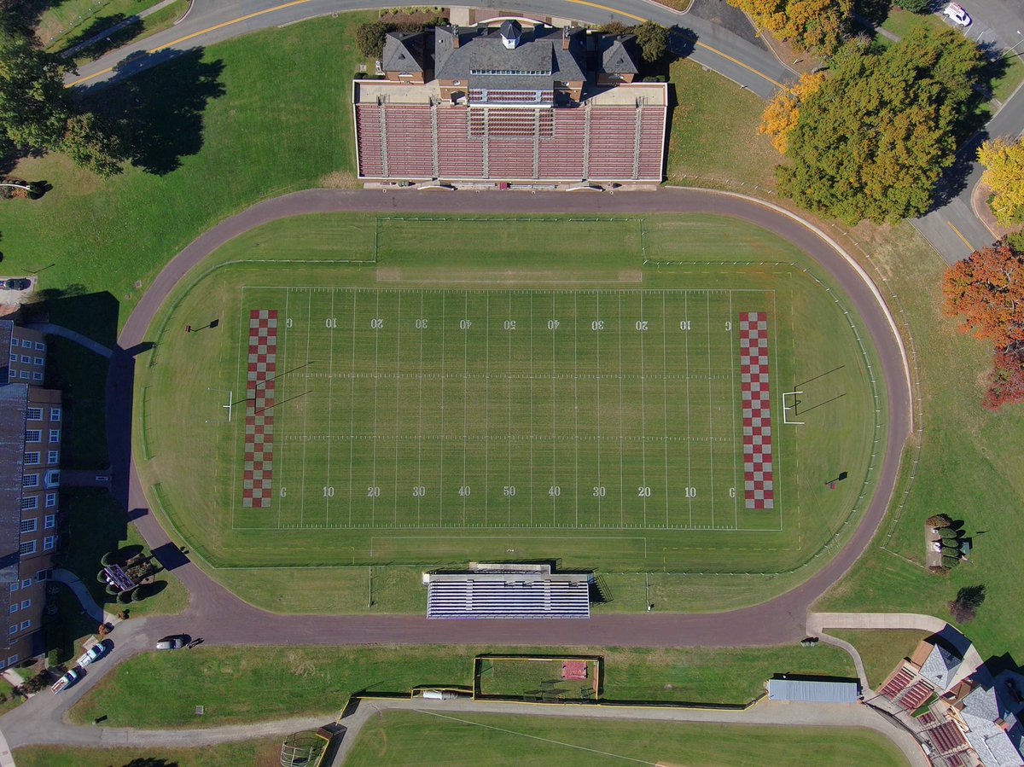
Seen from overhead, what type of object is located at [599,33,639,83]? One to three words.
building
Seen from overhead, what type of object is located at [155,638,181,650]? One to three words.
vehicle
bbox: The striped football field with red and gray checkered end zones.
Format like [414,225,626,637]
[207,263,807,556]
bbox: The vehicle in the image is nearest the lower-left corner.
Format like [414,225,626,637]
[46,669,79,699]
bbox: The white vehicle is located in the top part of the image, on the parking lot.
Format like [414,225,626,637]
[944,0,972,23]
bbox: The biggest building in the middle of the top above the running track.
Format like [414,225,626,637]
[435,17,587,109]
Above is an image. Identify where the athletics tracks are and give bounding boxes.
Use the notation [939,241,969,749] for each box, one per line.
[105,188,910,648]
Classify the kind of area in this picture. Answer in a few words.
sports ground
